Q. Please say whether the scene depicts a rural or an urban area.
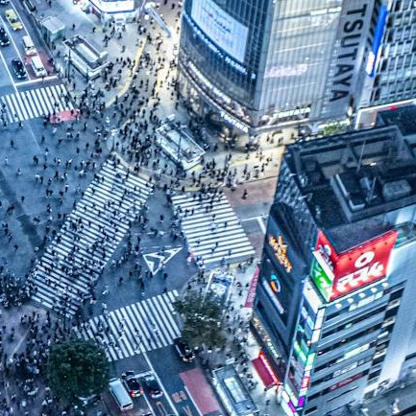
urban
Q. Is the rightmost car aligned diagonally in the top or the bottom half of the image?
bottom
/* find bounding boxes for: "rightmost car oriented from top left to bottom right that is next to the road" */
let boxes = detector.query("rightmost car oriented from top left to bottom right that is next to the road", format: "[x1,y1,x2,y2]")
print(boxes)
[175,336,199,364]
